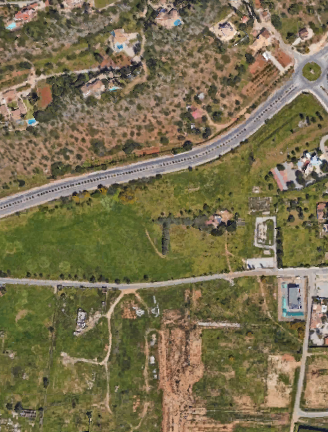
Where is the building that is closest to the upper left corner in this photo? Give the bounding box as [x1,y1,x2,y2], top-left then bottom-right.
[8,4,41,25]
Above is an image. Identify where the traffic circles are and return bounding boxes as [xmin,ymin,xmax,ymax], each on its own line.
[295,55,327,87]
